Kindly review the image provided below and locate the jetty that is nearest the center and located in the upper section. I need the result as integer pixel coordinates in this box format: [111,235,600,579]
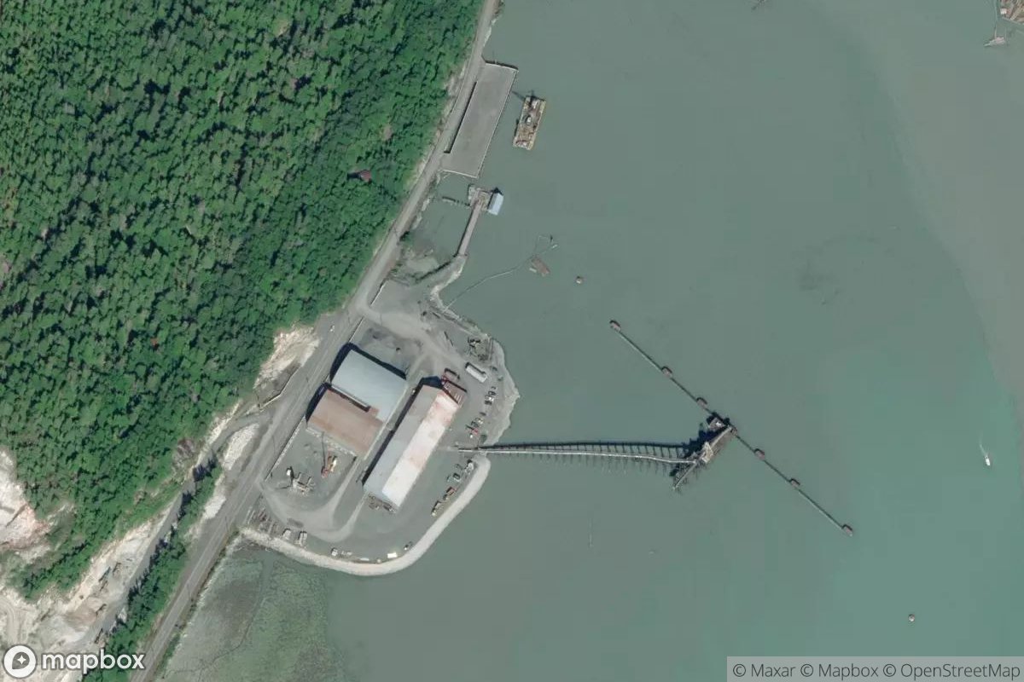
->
[462,187,491,256]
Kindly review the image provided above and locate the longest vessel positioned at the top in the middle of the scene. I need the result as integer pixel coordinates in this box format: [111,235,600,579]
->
[514,95,546,151]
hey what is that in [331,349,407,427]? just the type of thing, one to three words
shed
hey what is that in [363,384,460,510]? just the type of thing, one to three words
shed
